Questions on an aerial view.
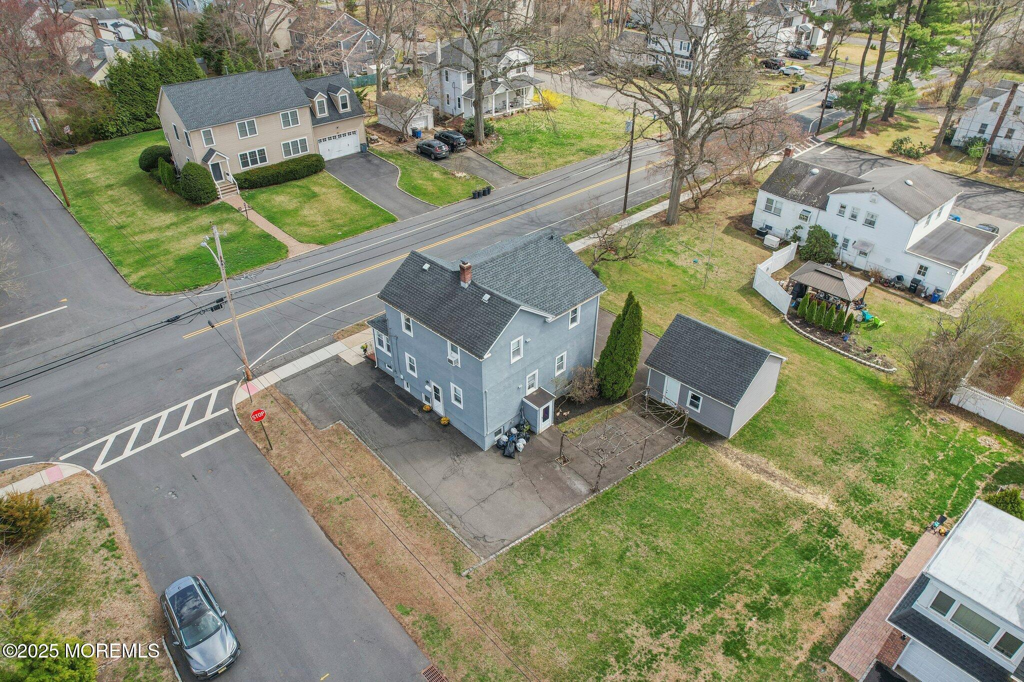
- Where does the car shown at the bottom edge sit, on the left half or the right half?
left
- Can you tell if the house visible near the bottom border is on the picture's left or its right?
right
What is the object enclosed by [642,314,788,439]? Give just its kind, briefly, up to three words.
building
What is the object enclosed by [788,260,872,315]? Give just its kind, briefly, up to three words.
gazebo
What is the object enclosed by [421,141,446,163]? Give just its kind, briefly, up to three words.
car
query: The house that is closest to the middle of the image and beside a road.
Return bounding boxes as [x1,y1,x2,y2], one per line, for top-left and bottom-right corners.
[359,234,609,451]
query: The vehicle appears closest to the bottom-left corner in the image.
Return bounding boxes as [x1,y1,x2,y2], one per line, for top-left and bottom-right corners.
[159,577,245,682]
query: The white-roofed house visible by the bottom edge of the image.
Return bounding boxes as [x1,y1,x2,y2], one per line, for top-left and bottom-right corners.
[877,496,1024,682]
